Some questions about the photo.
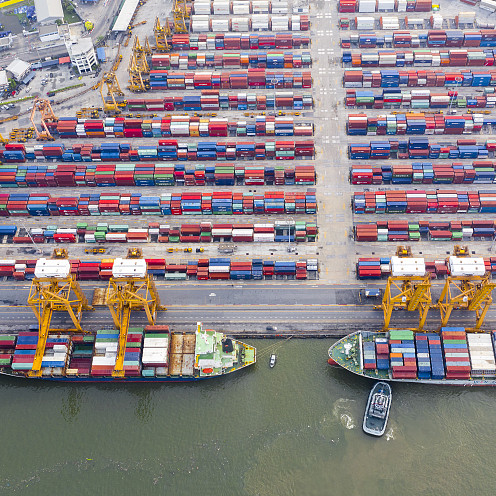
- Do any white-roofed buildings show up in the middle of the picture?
No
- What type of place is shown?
port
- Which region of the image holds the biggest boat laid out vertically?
bottom right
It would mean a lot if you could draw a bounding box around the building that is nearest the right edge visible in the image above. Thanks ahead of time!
[113,0,146,39]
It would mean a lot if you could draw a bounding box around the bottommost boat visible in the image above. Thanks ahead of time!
[365,381,391,437]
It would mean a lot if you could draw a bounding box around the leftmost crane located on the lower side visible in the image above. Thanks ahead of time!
[26,247,103,379]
